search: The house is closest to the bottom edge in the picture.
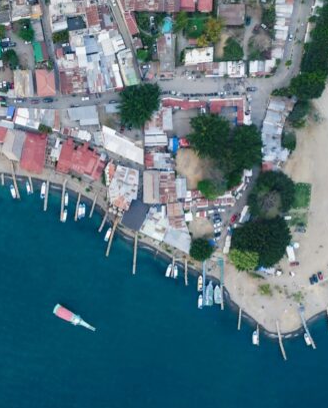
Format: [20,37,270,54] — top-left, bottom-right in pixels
[162,229,191,253]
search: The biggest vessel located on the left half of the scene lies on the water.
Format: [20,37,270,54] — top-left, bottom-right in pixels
[53,305,96,331]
